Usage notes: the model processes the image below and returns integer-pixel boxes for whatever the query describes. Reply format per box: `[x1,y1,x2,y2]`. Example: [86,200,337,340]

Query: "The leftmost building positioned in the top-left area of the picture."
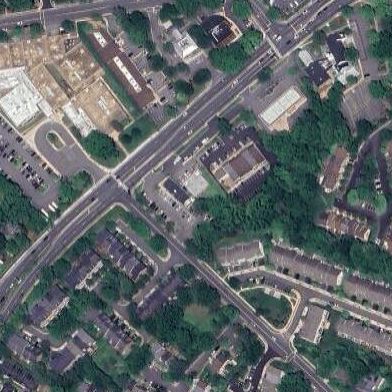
[0,36,136,137]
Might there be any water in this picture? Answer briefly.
No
